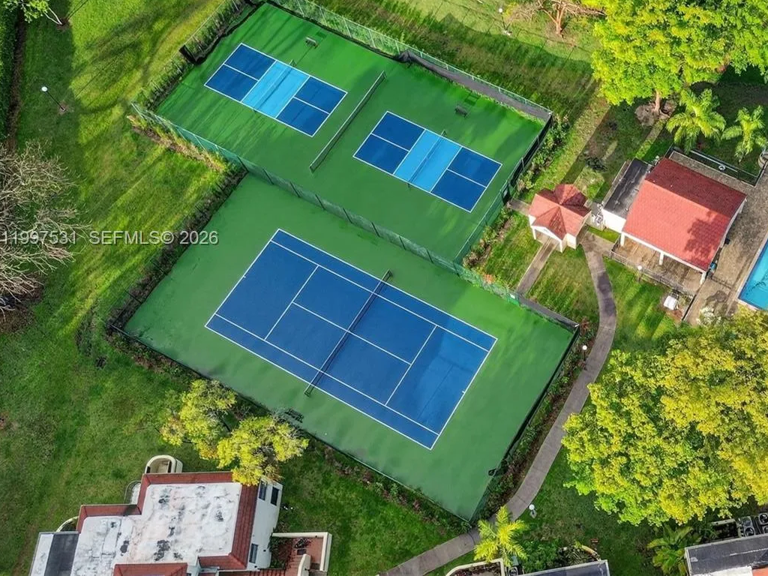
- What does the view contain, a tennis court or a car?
tennis court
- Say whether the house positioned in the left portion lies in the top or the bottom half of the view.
bottom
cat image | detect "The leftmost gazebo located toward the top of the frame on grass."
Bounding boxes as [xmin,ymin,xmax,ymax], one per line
[528,183,593,252]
